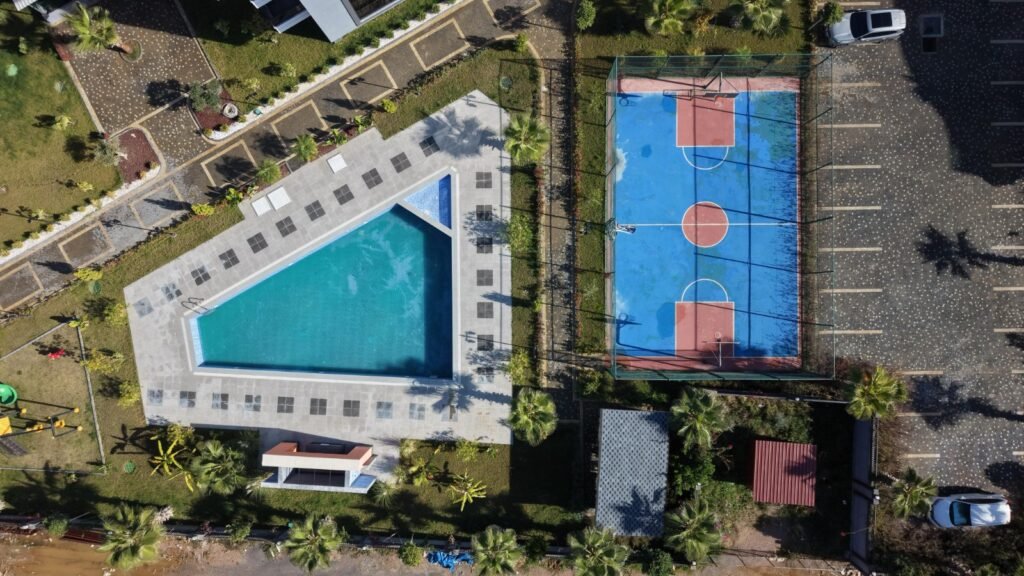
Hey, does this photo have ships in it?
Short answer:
No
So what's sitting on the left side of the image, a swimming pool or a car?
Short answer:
swimming pool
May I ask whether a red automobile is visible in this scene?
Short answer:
No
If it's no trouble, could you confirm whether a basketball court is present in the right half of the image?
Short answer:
Yes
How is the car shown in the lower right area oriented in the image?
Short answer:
from side to side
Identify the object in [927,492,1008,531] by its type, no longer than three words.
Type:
car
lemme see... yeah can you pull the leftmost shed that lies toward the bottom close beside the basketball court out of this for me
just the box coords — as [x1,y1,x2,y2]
[593,403,668,538]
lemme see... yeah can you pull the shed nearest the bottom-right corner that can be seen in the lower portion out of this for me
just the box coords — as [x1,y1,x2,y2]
[746,437,816,506]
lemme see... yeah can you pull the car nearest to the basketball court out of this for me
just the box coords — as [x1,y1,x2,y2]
[825,7,904,46]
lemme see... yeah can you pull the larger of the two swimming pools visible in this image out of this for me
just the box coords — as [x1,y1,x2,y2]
[180,167,458,388]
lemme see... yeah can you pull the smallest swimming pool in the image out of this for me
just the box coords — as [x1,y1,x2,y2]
[405,175,450,228]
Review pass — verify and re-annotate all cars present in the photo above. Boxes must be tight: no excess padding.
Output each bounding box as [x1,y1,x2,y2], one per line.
[927,492,1008,531]
[825,7,904,46]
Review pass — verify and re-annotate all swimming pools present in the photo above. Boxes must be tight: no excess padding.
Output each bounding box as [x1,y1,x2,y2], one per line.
[180,167,458,388]
[405,175,450,228]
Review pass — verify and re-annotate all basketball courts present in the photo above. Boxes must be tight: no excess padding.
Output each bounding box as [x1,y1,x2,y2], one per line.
[609,78,802,370]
